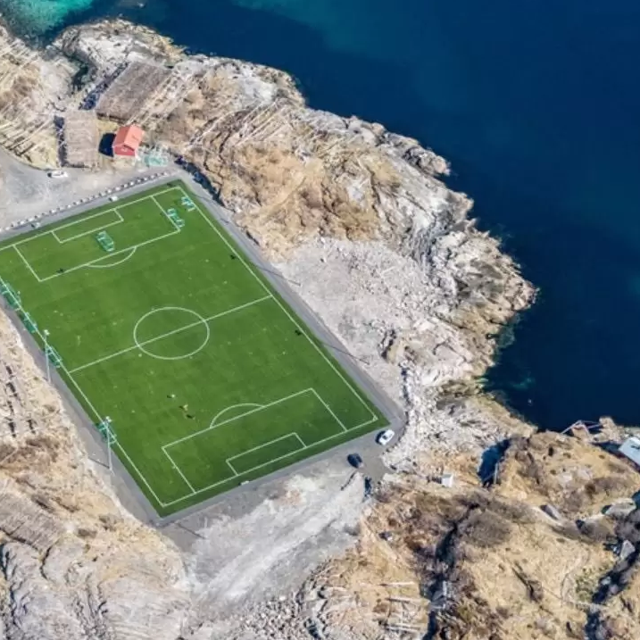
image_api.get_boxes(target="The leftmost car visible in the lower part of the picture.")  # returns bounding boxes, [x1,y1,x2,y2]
[346,452,362,467]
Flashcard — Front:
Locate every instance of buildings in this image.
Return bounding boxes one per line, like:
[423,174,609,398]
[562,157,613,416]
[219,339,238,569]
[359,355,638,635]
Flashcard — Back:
[114,124,140,156]
[441,473,454,488]
[612,431,640,470]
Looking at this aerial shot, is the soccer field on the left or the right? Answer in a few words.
left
